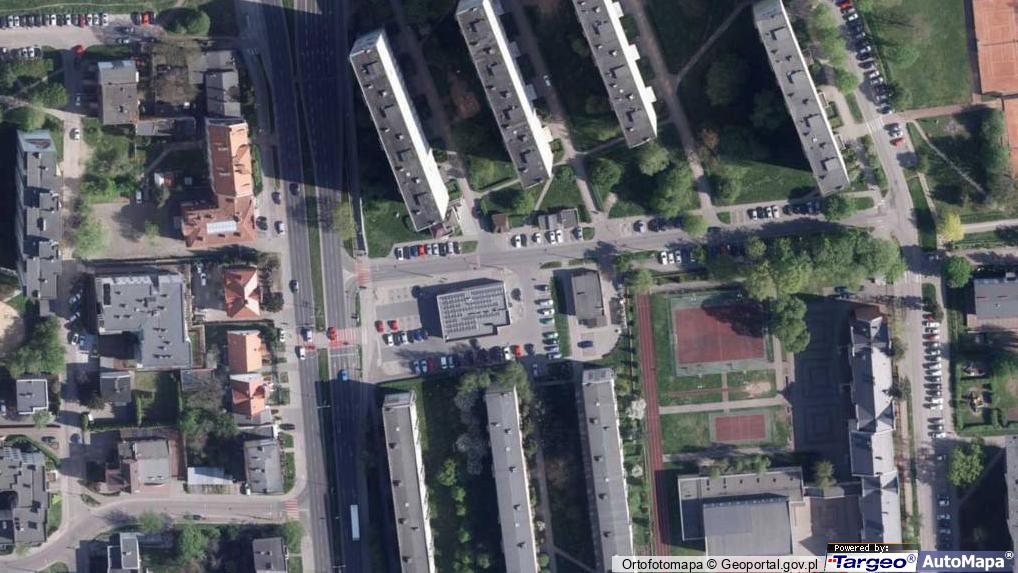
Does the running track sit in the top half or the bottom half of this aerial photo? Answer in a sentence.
It is in the bottom half that the running track appears.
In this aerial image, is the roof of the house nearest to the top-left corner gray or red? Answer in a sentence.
In this view, the roof of the house nearest to the top-left corner is gray.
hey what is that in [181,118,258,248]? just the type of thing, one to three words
house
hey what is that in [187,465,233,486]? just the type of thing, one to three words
shed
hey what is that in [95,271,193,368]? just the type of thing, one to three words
building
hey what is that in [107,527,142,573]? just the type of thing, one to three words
house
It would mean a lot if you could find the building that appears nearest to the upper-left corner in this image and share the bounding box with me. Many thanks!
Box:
[97,60,140,125]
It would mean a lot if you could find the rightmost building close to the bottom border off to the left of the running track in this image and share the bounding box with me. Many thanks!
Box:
[582,368,638,573]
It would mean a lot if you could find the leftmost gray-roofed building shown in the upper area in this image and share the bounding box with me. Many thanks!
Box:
[19,139,71,316]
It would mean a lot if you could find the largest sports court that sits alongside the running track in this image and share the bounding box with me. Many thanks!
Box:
[670,290,773,376]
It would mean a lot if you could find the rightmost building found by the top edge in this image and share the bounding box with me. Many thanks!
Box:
[754,0,848,196]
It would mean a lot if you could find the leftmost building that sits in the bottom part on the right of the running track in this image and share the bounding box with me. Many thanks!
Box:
[680,464,803,573]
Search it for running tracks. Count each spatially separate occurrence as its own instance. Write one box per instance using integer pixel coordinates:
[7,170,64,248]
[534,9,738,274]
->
[636,293,670,573]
